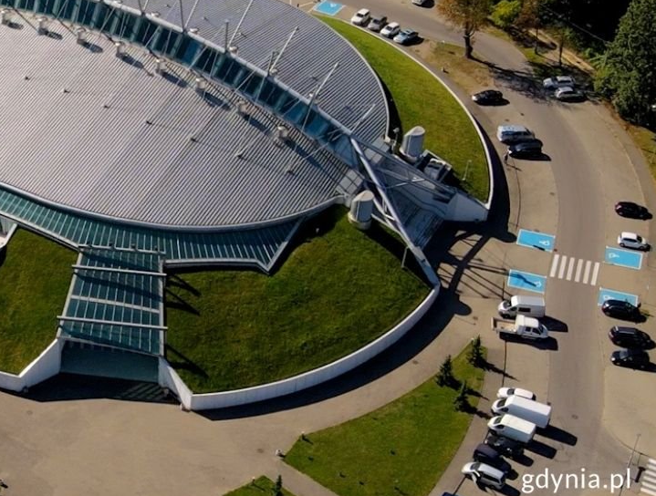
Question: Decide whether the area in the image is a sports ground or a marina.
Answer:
sports ground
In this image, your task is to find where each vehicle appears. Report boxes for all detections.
[617,232,651,252]
[493,392,552,425]
[611,327,651,348]
[349,5,371,24]
[498,291,548,316]
[610,351,652,371]
[378,19,401,37]
[393,30,421,45]
[617,201,649,220]
[486,412,539,444]
[472,90,505,104]
[509,142,544,157]
[495,314,546,340]
[365,15,391,31]
[483,434,528,460]
[606,298,639,320]
[498,385,534,399]
[471,447,515,477]
[501,125,532,142]
[409,0,430,5]
[461,461,505,490]
[554,89,588,103]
